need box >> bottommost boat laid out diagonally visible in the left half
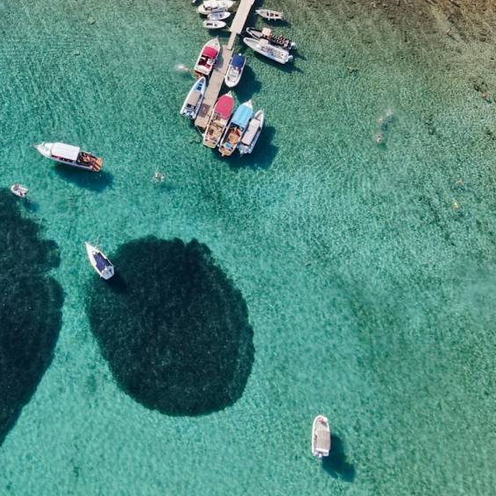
[85,236,112,277]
